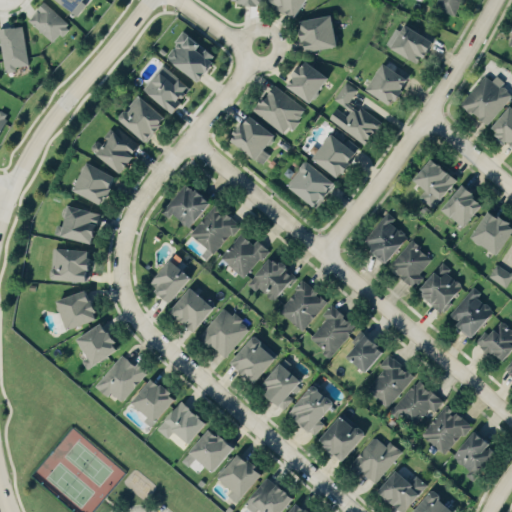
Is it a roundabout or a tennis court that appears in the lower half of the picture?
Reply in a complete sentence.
You can see a tennis court in the lower half of the picture.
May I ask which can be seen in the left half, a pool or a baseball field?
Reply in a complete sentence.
There is a pool in the left half.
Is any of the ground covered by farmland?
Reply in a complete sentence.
No, there's no farmland in this view.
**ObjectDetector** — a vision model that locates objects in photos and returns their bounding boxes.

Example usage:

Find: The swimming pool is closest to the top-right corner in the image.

[303,121,334,155]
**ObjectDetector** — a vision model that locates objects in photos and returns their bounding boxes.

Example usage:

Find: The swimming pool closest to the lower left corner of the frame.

[123,406,150,434]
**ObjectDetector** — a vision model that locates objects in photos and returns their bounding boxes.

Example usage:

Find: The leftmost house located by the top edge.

[0,24,30,70]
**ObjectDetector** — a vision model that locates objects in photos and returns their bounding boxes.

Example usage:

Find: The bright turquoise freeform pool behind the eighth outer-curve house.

[44,310,66,337]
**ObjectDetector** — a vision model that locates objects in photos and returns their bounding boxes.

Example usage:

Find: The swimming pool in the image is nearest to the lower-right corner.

[325,383,345,404]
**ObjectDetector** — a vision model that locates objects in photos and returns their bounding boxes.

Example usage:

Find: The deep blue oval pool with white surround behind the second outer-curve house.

[140,59,162,84]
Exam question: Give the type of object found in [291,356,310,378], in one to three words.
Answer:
swimming pool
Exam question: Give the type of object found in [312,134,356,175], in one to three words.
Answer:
house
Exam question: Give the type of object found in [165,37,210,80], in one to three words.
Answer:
house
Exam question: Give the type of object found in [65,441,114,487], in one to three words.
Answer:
tennis court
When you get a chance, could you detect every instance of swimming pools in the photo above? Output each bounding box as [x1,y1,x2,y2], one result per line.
[44,310,66,337]
[186,238,207,256]
[325,383,345,404]
[123,406,150,434]
[140,59,162,84]
[291,356,310,378]
[212,485,238,508]
[155,242,176,268]
[303,121,334,155]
